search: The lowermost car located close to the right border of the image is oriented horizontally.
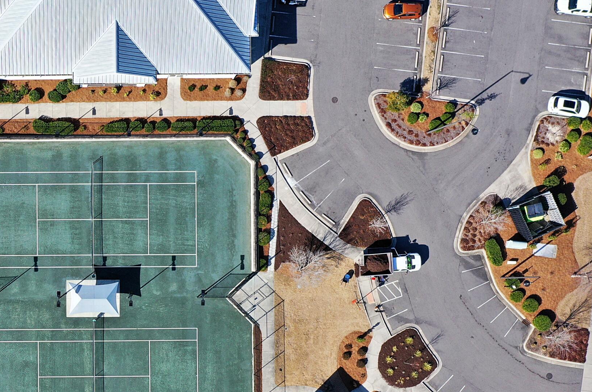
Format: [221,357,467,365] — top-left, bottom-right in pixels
[545,99,589,118]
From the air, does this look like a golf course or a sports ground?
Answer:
sports ground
